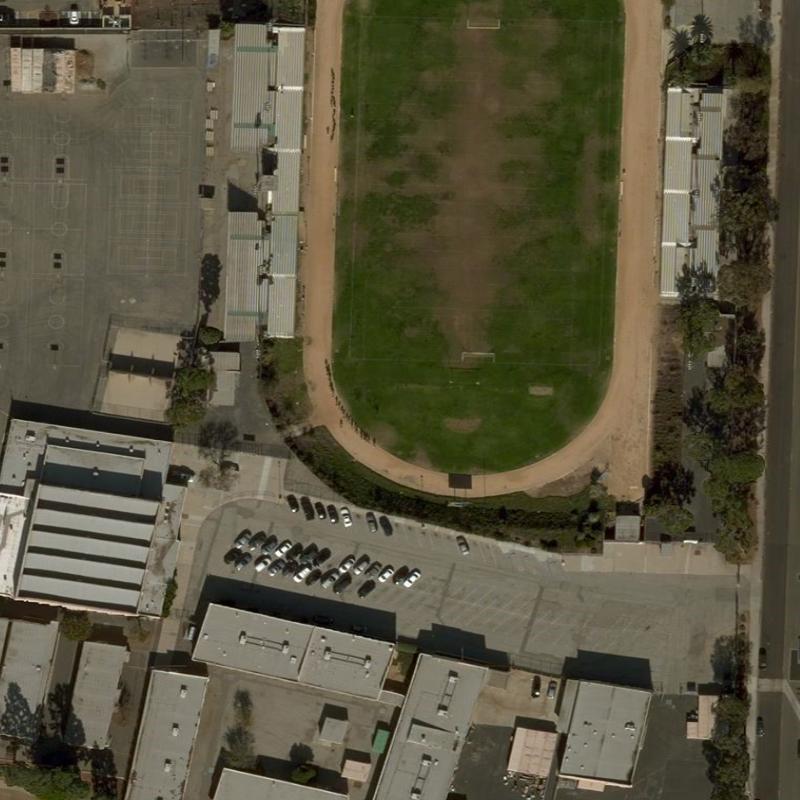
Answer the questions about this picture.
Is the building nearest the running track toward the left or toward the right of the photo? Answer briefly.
right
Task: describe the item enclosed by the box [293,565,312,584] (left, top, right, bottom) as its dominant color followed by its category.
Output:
white car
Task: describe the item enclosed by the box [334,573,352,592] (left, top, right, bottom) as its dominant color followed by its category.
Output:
black car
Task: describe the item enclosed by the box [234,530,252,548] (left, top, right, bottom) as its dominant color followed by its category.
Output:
gray car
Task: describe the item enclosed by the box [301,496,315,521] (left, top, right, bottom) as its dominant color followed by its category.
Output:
black car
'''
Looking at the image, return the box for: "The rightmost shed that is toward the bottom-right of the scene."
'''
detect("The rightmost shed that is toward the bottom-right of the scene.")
[686,695,718,740]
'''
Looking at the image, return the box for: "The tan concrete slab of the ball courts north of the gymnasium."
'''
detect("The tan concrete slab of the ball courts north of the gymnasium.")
[103,329,177,421]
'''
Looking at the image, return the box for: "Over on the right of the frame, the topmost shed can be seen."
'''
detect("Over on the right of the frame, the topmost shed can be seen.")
[708,345,726,368]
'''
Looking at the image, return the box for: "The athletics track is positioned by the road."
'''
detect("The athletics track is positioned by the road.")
[302,0,664,501]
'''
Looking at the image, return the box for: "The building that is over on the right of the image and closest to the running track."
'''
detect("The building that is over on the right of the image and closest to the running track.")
[615,516,640,541]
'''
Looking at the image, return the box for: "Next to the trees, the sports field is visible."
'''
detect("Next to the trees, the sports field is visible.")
[334,0,623,471]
